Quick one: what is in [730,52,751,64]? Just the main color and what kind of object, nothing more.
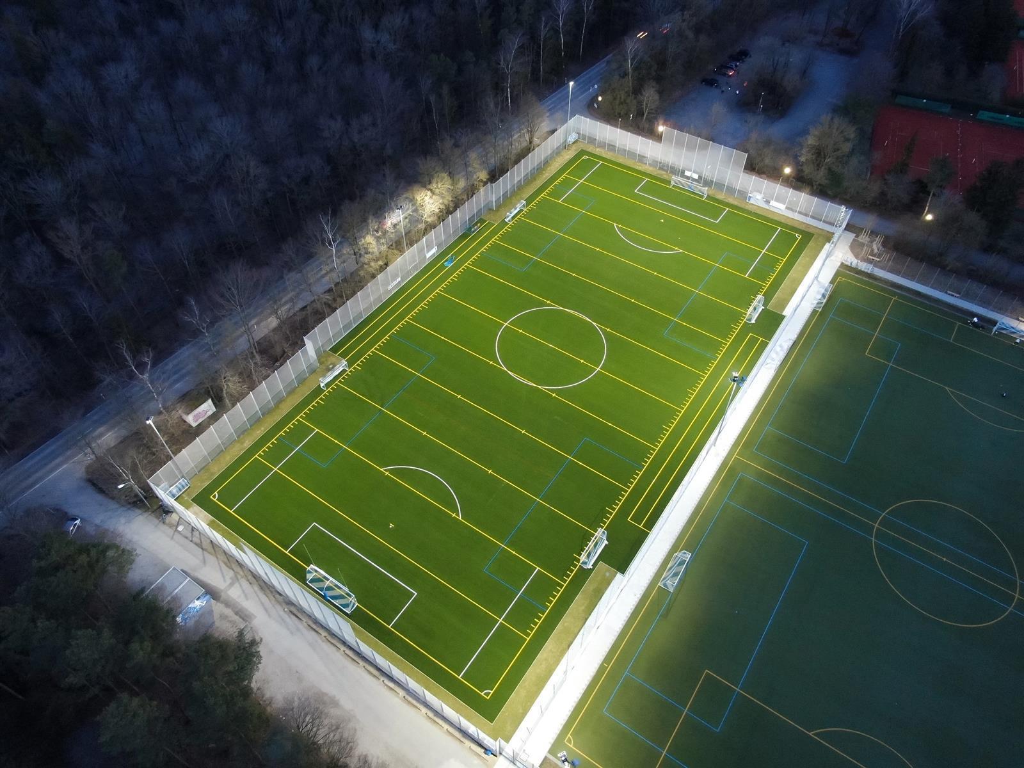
black vehicle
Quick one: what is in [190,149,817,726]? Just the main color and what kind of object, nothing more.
green soccer field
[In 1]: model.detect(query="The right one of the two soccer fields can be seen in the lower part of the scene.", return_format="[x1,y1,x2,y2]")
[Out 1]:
[557,272,1024,768]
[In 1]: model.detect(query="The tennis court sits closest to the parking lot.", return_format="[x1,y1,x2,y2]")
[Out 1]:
[870,98,1024,206]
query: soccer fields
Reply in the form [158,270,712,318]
[557,272,1024,768]
[190,149,817,726]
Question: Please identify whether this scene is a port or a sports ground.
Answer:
sports ground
